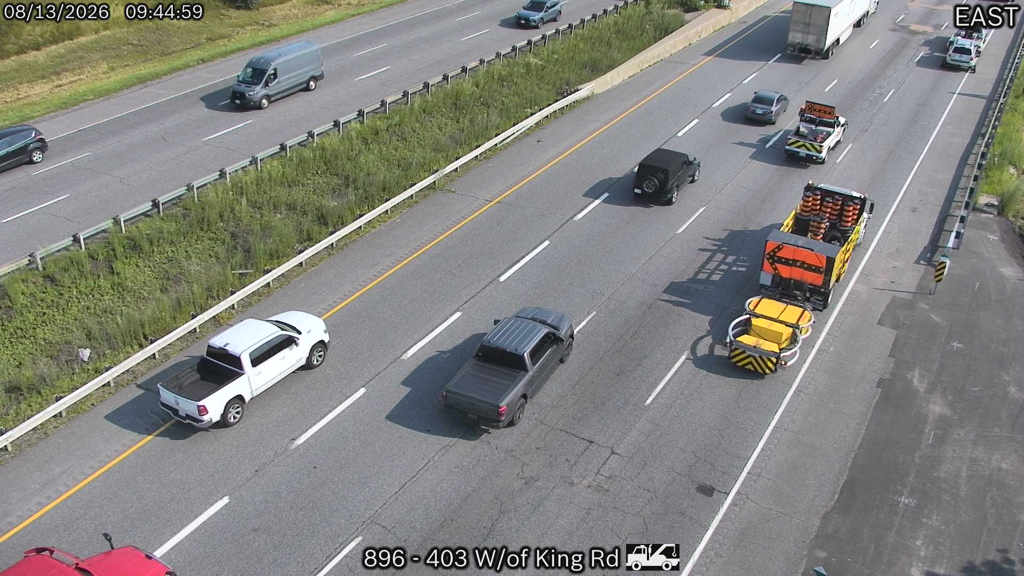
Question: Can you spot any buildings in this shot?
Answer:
No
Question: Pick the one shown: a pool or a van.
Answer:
van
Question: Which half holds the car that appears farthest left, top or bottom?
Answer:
top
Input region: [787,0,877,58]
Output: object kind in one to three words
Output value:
trailer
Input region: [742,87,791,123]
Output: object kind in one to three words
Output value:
car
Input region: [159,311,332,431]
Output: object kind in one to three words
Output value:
truck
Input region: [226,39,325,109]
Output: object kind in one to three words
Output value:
van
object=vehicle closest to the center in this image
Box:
[446,308,577,431]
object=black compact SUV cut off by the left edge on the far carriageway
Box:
[0,123,47,171]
